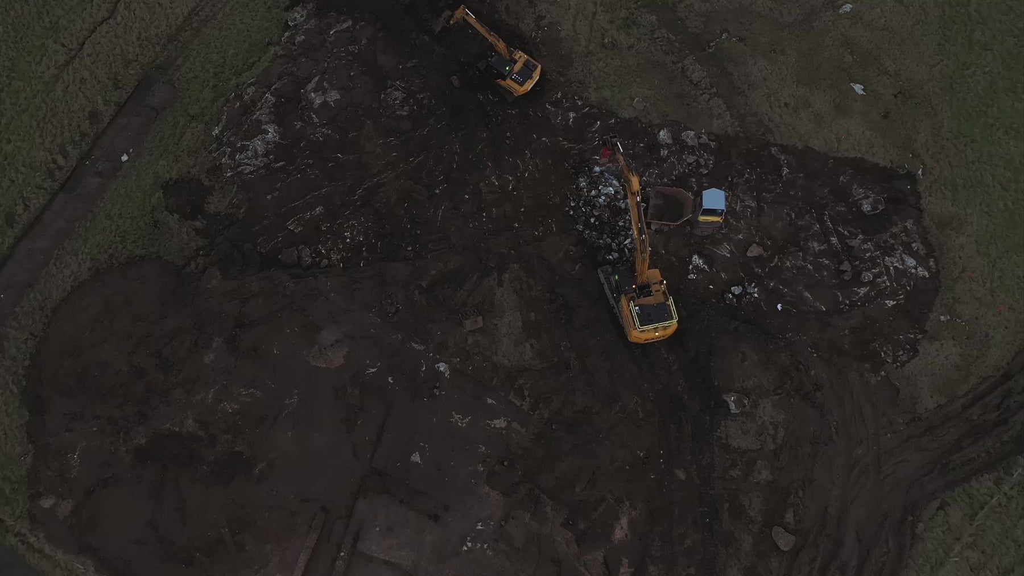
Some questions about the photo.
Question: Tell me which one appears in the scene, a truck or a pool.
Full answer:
The one in the frame is a truck.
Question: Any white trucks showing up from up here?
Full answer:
No, I can't see a single white truck in this photo.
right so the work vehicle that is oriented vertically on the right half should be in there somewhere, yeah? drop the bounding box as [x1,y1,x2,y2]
[597,132,680,344]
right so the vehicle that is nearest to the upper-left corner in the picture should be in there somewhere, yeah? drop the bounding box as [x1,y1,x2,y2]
[431,0,544,104]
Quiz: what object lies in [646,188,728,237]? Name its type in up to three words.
truck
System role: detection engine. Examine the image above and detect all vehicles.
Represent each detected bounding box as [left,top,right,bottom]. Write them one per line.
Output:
[431,0,544,104]
[597,132,680,344]
[646,188,728,237]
